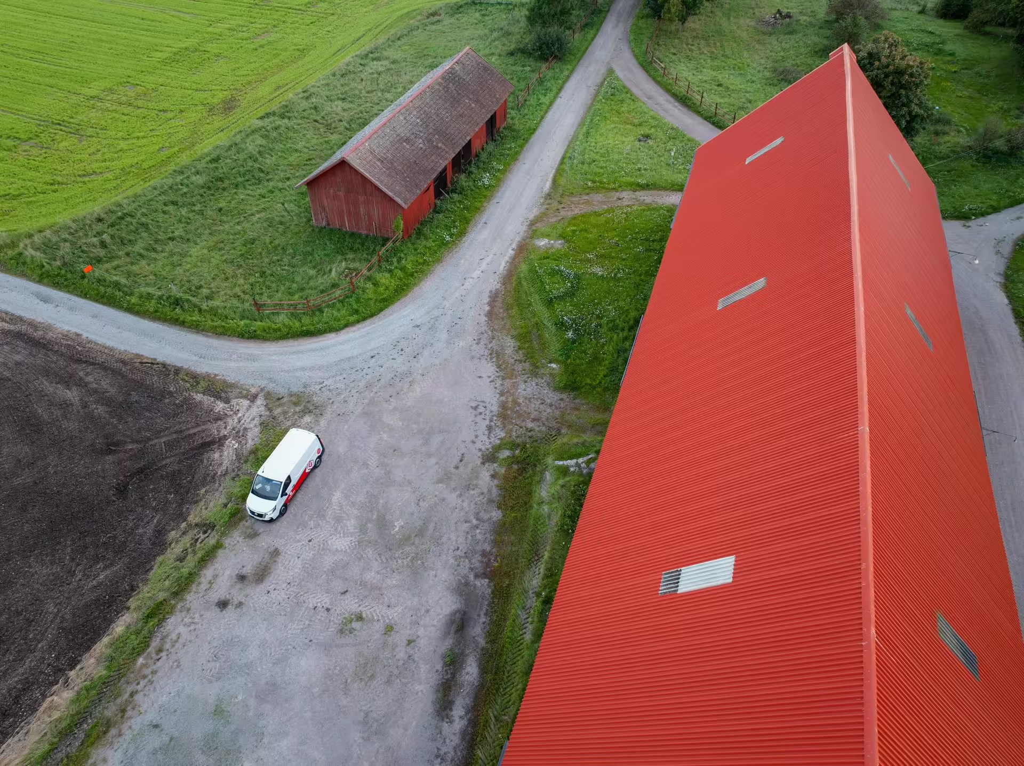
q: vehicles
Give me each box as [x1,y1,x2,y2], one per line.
[242,426,326,526]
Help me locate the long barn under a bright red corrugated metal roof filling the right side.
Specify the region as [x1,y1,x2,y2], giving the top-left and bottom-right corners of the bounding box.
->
[498,40,1024,766]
